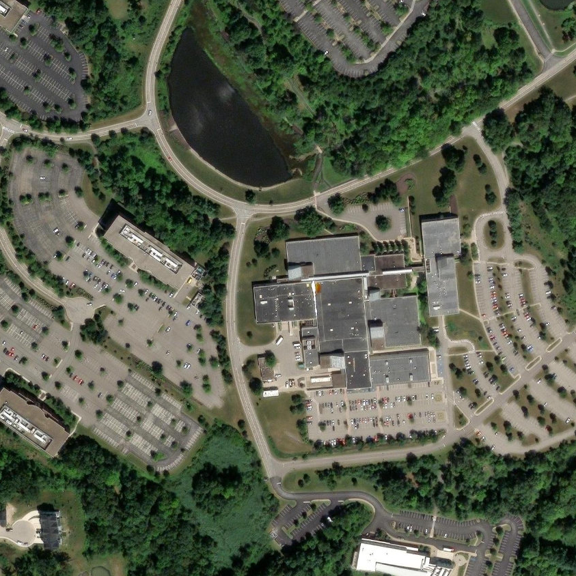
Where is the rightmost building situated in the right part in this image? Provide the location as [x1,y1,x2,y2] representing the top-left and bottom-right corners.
[421,217,460,316]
